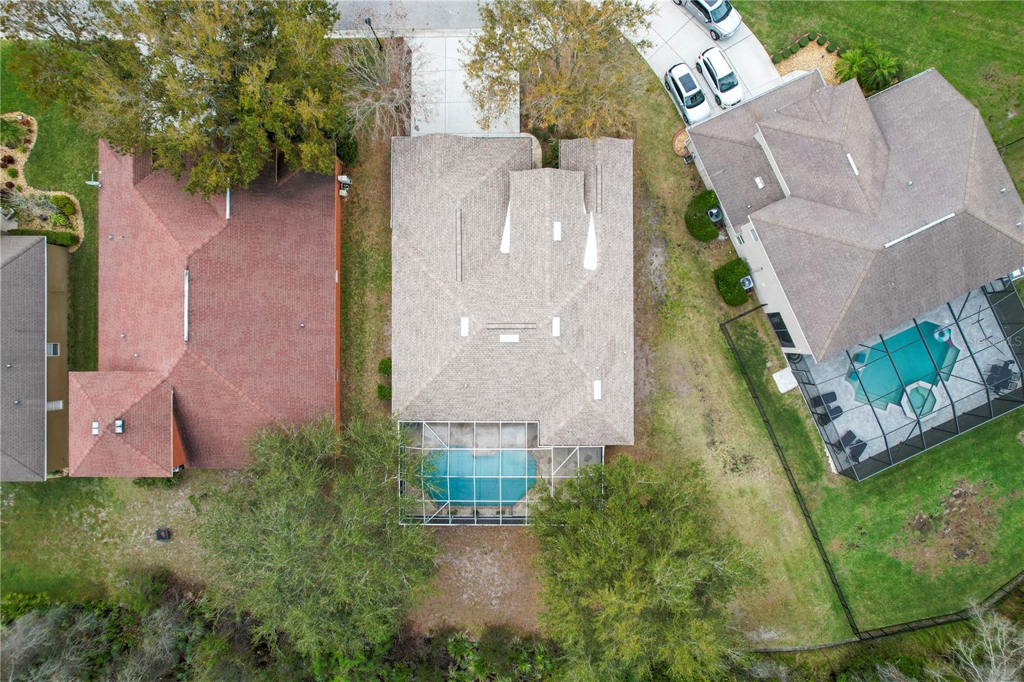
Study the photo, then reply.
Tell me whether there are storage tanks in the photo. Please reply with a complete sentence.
No, no storage tank is visible in the view.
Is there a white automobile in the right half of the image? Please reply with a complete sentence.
Yes, there is a white automobile in the right half of the image.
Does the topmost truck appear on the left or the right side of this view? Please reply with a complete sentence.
It is on the right.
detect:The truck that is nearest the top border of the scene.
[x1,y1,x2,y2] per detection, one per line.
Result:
[677,0,744,41]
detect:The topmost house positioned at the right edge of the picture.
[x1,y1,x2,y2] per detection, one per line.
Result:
[687,65,1024,364]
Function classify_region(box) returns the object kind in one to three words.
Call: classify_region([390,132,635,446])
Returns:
house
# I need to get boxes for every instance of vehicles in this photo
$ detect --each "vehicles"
[665,60,714,127]
[696,42,747,109]
[677,0,744,41]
